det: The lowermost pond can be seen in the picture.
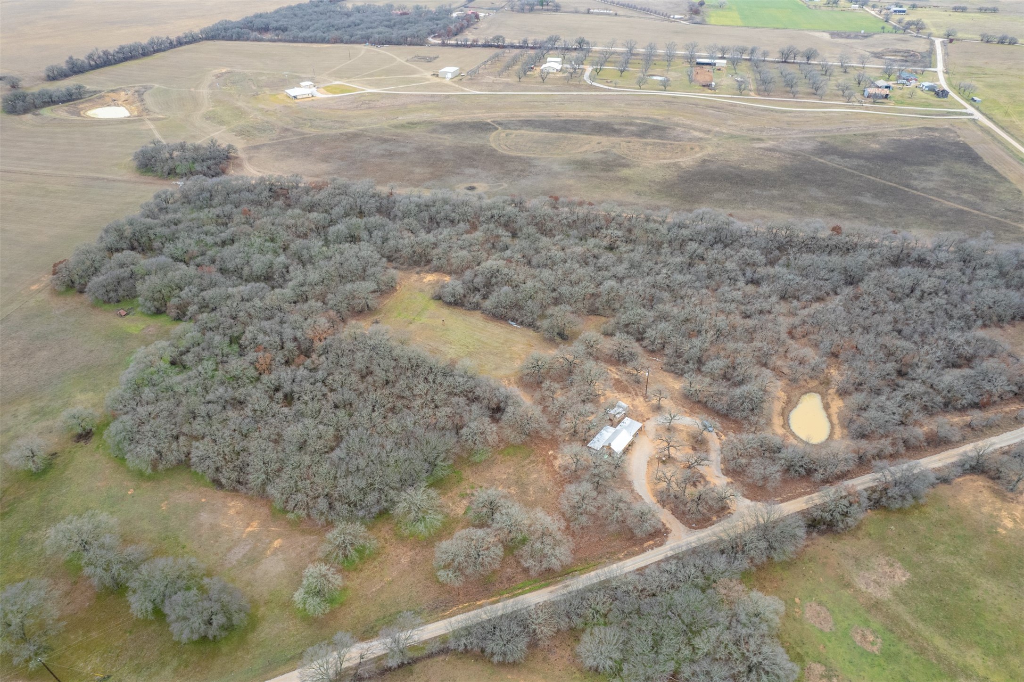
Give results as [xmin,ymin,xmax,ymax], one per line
[789,394,831,445]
